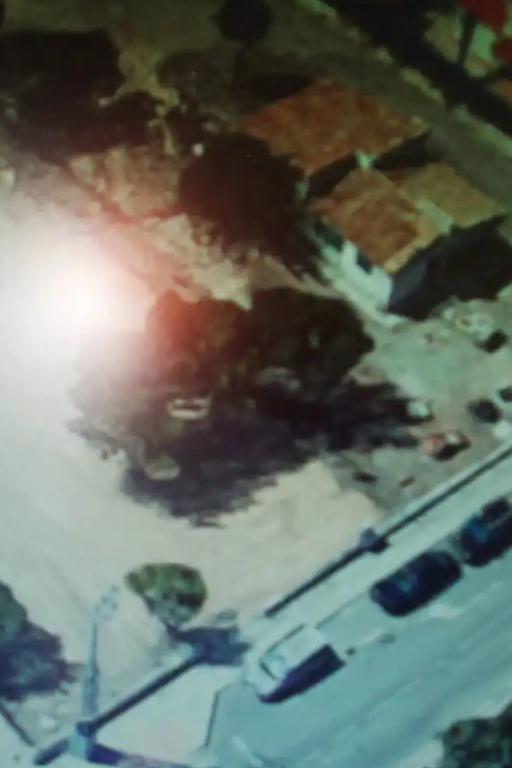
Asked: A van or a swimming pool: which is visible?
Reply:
van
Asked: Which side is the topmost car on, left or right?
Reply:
right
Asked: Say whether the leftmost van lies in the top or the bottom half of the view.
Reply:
bottom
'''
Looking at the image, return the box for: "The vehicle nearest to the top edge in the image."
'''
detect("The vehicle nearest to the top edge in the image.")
[457,497,512,565]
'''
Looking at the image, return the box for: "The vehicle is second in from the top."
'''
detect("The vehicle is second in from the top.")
[374,543,468,622]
